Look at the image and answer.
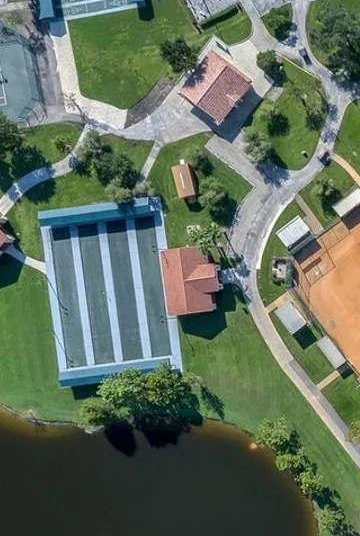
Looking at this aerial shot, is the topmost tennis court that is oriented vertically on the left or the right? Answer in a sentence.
The topmost tennis court that is oriented vertically is on the left side of the image.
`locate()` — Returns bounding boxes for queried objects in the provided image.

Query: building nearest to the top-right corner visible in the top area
[180,52,252,124]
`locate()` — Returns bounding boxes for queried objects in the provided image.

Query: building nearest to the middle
[161,246,231,317]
